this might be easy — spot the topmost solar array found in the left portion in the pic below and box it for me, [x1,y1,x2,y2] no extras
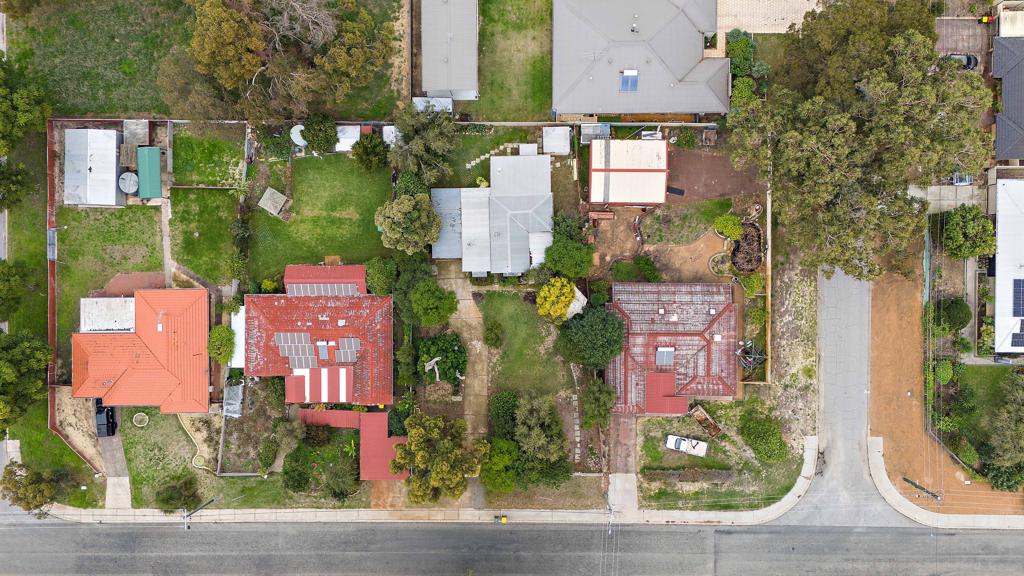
[287,283,357,295]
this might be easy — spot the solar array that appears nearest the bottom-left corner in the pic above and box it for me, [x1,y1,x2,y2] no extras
[275,332,317,368]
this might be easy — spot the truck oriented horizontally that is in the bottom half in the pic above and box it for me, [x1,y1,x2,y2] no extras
[665,435,712,460]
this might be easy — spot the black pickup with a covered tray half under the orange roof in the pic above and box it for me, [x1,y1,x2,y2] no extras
[93,399,115,435]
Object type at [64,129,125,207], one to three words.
shed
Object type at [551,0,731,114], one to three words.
house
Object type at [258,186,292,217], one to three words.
gazebo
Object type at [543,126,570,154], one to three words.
shed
